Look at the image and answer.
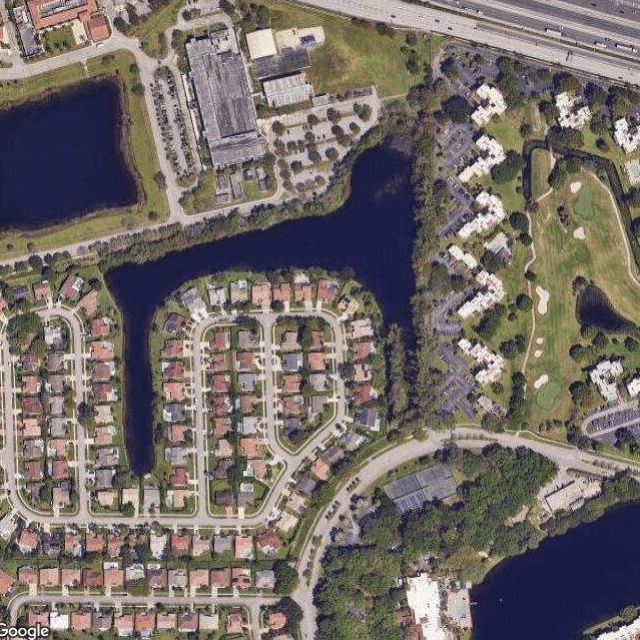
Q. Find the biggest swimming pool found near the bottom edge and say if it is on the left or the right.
right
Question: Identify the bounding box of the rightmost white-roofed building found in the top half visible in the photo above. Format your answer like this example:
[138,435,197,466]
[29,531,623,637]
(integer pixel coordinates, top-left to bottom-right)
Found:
[614,118,640,154]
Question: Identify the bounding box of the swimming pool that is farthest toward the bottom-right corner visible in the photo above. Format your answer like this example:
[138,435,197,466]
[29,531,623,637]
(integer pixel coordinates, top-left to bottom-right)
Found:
[448,589,471,627]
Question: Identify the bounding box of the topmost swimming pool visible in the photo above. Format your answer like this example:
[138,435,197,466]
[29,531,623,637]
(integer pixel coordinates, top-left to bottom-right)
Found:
[625,159,640,185]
